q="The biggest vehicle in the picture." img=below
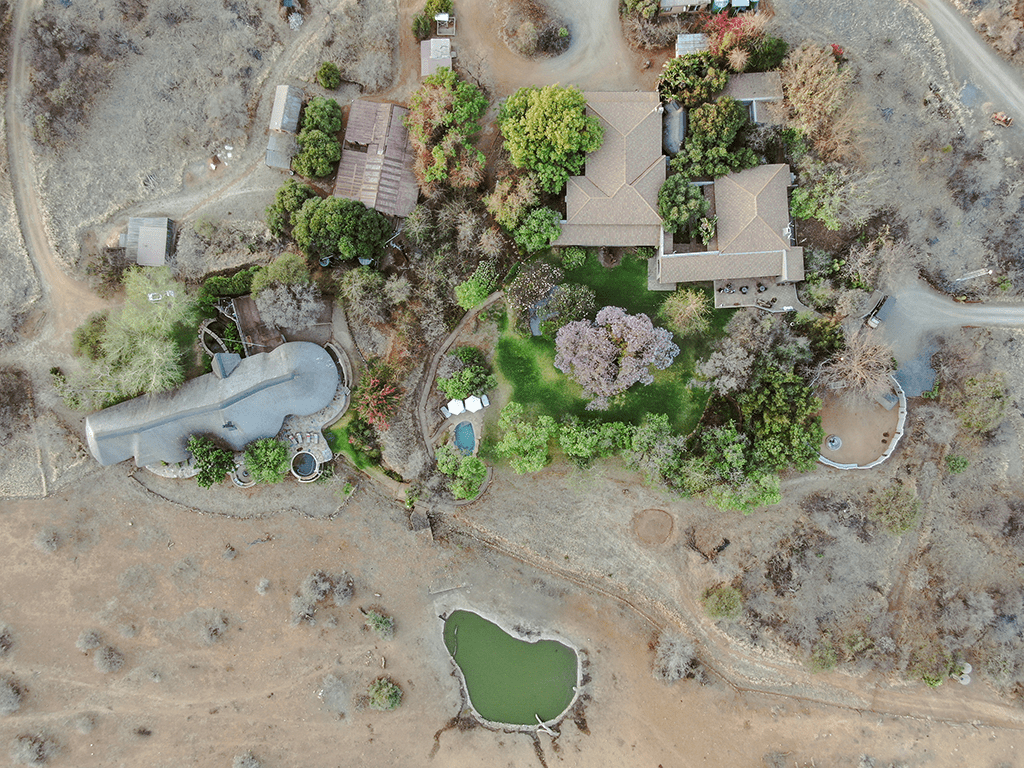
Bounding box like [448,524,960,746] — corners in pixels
[865,294,897,330]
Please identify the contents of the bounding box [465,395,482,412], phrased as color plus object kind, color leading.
white umbrella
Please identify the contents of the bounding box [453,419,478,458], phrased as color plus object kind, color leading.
blue swimming pool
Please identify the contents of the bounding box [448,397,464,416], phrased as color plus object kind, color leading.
white umbrella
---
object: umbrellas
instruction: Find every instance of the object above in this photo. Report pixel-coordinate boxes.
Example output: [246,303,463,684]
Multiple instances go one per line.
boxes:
[448,397,464,416]
[465,395,482,412]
